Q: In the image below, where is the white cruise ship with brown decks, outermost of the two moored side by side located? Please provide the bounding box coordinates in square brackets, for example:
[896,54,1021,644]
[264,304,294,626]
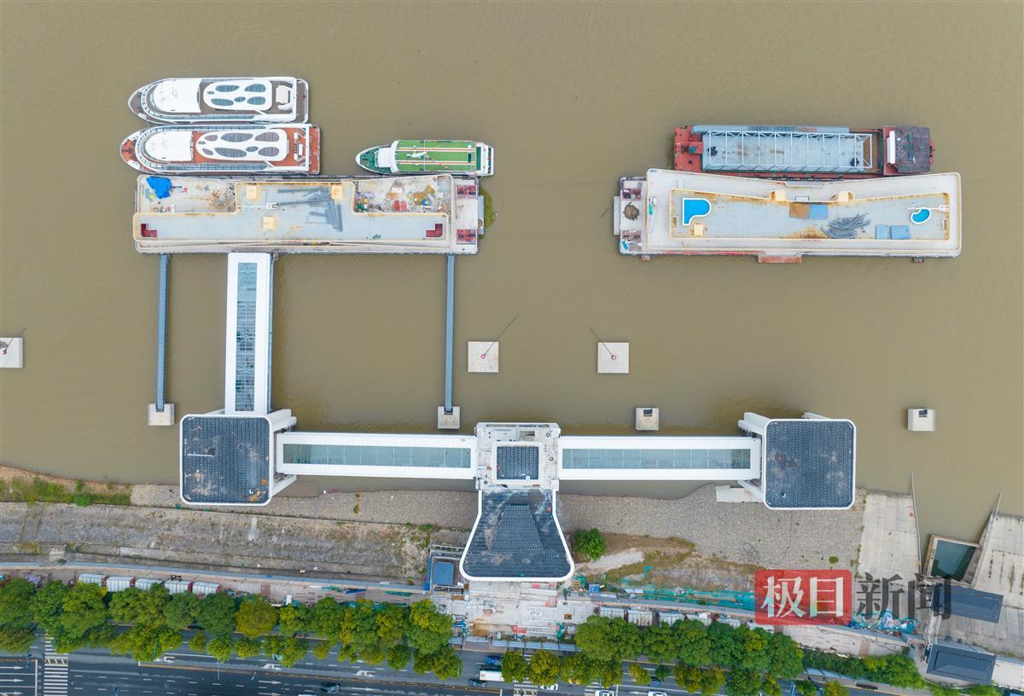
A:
[126,76,309,124]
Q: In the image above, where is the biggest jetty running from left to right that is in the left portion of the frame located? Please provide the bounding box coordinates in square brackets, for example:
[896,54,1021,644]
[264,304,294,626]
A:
[131,173,484,255]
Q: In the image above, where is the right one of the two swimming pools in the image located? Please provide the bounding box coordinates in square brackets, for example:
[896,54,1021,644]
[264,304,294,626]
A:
[911,209,932,224]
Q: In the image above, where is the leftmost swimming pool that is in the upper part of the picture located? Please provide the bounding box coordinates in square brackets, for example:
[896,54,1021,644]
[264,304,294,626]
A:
[683,198,711,226]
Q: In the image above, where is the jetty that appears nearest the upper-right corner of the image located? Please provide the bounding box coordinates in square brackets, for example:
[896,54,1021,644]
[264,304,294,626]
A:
[613,168,962,264]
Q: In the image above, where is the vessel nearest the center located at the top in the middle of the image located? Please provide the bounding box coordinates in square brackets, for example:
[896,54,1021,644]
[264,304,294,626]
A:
[355,140,494,177]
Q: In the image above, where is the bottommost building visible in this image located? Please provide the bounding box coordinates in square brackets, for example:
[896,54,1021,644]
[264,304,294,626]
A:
[920,639,996,684]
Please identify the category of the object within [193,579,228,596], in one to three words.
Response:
building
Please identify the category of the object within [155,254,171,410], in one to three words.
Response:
pier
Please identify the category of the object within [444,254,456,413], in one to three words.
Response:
pier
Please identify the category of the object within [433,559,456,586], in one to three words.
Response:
shed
